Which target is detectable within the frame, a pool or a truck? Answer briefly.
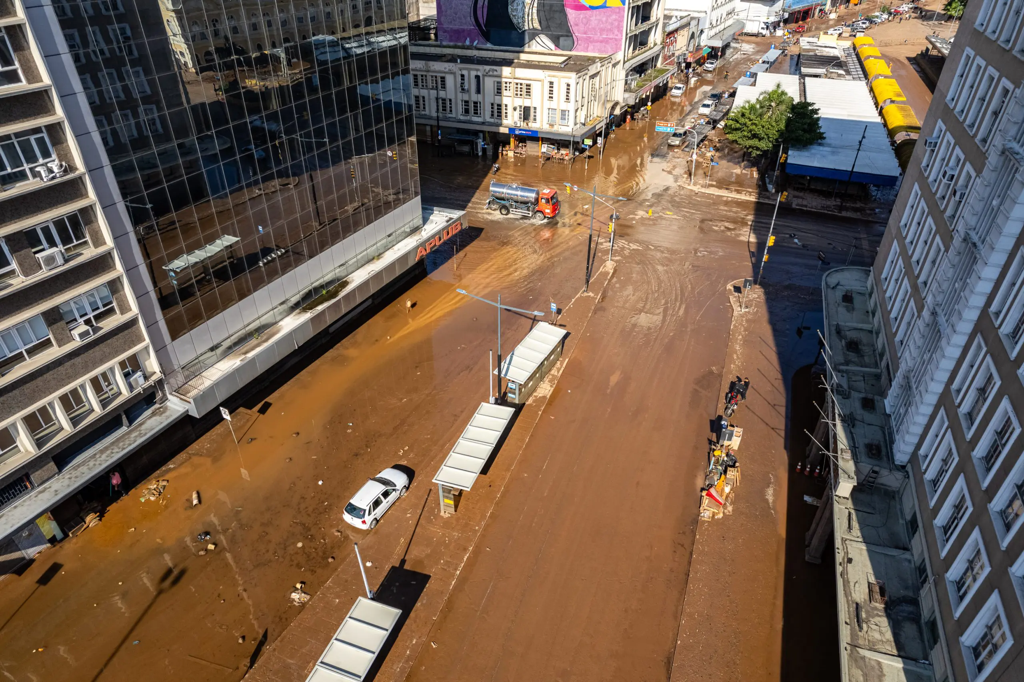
truck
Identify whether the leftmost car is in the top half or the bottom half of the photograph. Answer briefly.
bottom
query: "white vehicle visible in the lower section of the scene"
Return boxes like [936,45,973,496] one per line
[335,468,410,535]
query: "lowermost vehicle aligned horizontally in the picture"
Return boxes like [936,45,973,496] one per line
[481,173,561,221]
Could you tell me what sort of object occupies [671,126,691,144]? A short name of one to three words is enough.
car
